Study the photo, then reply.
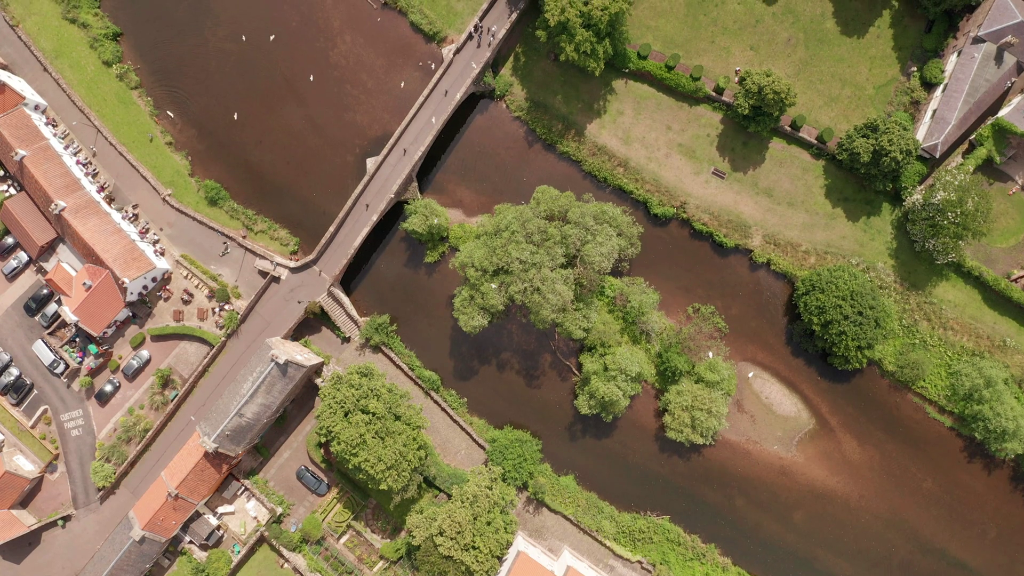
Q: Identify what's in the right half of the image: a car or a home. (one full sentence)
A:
Visible in the right half of the image is a home.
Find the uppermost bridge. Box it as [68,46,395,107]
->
[309,0,533,272]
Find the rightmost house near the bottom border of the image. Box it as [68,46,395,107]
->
[556,548,605,576]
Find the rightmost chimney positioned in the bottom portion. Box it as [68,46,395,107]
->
[264,350,288,369]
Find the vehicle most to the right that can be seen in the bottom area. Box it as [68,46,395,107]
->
[294,465,332,496]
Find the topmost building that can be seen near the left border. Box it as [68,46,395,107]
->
[0,69,47,114]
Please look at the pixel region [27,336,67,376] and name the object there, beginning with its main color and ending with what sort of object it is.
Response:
white van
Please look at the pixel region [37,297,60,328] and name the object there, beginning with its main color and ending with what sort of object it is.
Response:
gray car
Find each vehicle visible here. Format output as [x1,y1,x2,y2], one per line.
[91,377,124,408]
[27,336,67,376]
[0,342,20,375]
[0,233,19,259]
[0,364,28,398]
[0,250,35,282]
[37,297,60,328]
[6,374,38,406]
[22,282,59,318]
[120,346,154,382]
[294,465,332,496]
